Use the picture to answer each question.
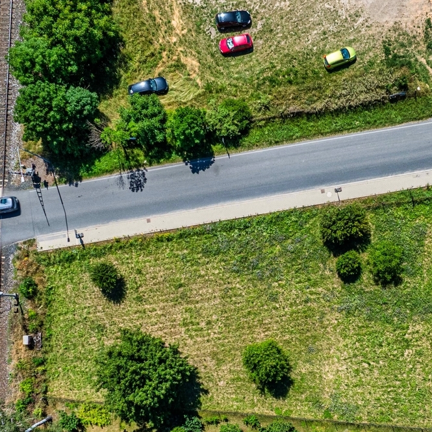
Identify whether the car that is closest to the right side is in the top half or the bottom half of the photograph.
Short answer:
top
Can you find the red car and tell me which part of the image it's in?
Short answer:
top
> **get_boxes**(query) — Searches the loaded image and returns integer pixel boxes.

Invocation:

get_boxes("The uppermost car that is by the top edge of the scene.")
[216,11,251,31]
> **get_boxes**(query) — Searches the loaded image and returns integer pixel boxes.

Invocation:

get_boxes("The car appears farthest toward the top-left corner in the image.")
[129,76,168,98]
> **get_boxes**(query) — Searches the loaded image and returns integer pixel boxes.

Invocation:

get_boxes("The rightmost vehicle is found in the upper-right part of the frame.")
[322,48,357,72]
